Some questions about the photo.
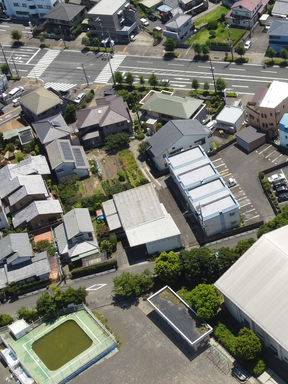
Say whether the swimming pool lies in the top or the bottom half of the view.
bottom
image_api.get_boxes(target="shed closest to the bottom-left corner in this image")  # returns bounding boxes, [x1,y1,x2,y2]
[10,322,34,344]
